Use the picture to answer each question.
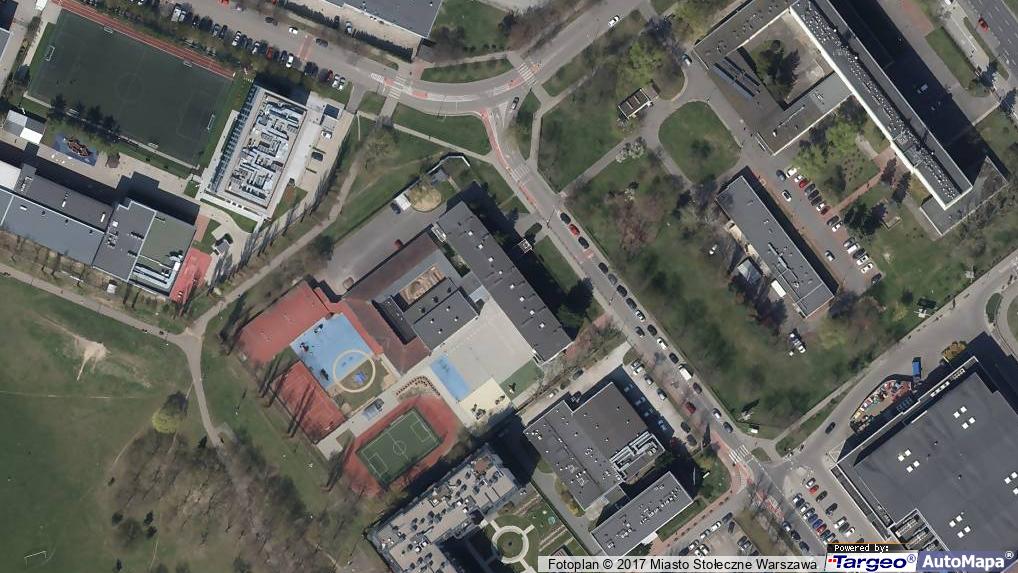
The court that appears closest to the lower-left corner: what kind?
tennis court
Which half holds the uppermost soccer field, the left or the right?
left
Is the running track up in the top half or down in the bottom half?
top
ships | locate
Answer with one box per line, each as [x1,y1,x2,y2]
[67,139,89,155]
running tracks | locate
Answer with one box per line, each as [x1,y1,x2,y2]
[56,0,236,81]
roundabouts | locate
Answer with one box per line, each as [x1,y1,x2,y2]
[984,270,1018,366]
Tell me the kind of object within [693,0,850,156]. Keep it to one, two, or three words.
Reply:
building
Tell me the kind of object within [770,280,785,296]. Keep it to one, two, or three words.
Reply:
vehicle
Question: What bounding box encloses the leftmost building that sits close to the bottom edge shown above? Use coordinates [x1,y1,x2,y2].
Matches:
[366,452,520,573]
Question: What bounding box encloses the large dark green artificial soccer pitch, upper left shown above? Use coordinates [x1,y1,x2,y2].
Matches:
[28,9,233,168]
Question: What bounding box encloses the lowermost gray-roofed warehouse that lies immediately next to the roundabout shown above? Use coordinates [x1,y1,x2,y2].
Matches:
[829,357,1018,573]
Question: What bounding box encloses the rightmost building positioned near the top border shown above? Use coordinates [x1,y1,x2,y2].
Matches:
[786,0,973,211]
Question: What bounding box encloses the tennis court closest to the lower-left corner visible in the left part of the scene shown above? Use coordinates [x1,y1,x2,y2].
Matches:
[271,361,344,443]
